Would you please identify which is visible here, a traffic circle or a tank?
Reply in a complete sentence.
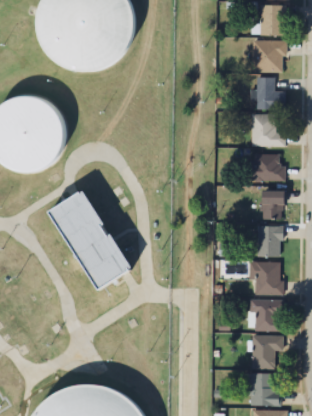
It is a tank that can be seen here.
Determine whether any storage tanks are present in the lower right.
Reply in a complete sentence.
No, I see no storage tank in the lower right.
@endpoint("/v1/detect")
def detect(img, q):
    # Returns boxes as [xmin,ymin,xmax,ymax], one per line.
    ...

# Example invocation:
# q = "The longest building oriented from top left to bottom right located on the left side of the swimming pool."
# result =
[48,189,133,288]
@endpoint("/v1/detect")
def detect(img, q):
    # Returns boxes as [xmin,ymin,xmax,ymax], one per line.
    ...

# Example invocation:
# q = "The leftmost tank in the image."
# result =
[0,93,68,173]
